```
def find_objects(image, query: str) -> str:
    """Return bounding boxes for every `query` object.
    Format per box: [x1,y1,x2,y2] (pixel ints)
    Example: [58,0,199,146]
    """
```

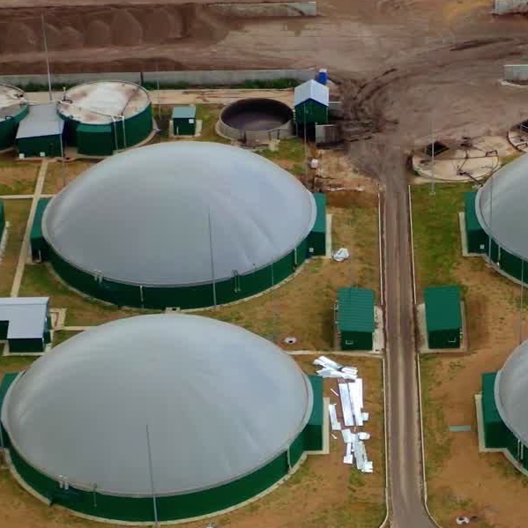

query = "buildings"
[292,78,330,140]
[334,285,389,354]
[166,105,204,139]
[411,284,467,353]
[11,101,71,163]
[0,294,72,362]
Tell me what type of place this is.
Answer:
industrial area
